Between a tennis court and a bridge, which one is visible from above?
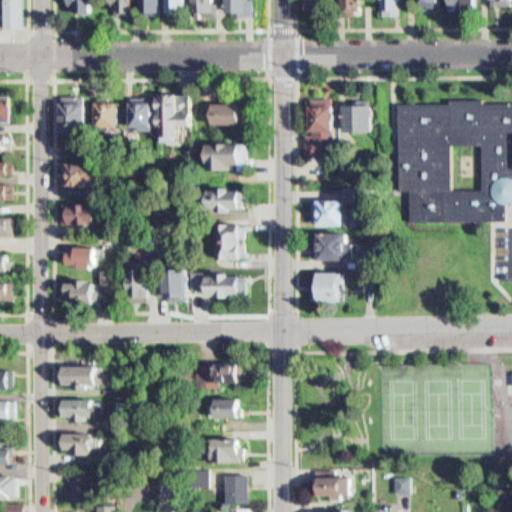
tennis court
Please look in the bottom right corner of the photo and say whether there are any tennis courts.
Yes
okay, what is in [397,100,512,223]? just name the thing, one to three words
building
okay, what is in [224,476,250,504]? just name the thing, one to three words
house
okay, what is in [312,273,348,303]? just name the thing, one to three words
house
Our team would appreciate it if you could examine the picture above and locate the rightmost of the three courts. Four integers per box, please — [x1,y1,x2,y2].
[456,364,492,453]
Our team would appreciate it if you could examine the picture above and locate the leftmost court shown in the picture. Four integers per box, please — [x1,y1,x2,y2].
[382,364,422,453]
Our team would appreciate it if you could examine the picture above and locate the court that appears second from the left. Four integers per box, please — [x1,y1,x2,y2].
[422,364,456,453]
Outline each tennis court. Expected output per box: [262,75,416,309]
[422,364,456,453]
[382,364,422,453]
[456,364,492,453]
